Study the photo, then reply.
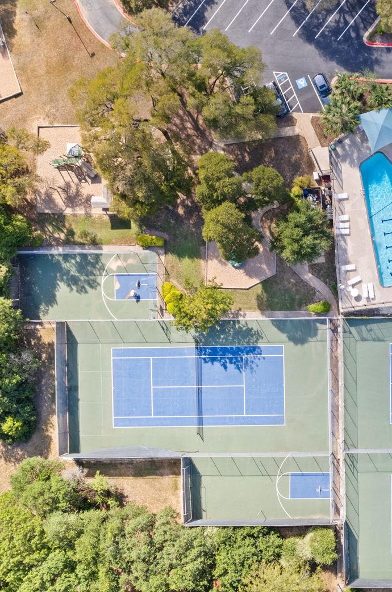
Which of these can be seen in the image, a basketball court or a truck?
basketball court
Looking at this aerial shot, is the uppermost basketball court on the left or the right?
left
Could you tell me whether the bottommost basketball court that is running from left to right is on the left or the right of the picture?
right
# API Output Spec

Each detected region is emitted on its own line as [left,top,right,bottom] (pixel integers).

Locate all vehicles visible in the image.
[266,79,293,117]
[312,73,335,108]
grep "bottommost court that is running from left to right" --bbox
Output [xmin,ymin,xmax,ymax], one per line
[190,453,335,521]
